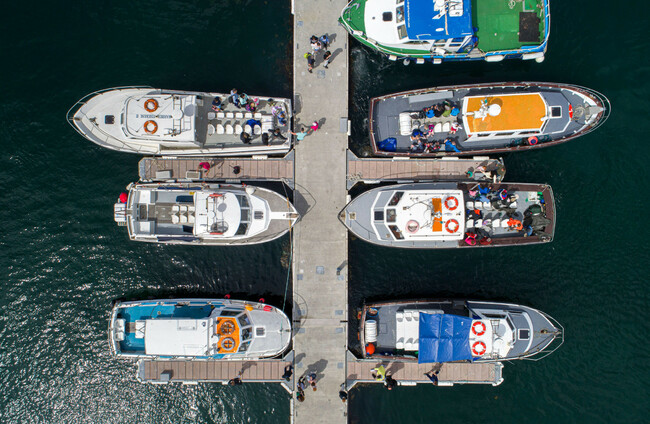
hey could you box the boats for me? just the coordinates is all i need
[369,83,610,157]
[337,182,558,248]
[112,183,301,246]
[337,0,550,63]
[66,84,293,157]
[358,298,564,362]
[108,297,293,361]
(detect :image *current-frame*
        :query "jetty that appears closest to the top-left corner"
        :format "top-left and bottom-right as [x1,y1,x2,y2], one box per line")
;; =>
[138,152,293,189]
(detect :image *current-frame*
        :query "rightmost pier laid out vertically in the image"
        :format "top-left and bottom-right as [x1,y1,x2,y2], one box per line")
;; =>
[291,0,350,424]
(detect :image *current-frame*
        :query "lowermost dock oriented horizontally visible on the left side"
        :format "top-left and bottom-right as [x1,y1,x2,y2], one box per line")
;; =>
[137,352,293,392]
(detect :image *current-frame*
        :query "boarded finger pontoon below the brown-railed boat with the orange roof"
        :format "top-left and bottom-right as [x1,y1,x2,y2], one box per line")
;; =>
[348,152,500,189]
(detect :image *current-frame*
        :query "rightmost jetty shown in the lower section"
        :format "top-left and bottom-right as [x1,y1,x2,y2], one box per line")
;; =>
[348,353,500,392]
